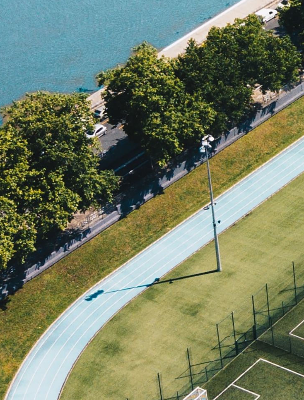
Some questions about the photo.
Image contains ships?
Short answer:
No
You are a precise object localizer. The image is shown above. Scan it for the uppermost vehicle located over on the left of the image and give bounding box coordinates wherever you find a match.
[85,102,111,121]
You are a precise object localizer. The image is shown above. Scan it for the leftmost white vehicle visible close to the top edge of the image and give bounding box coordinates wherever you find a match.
[250,6,275,23]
